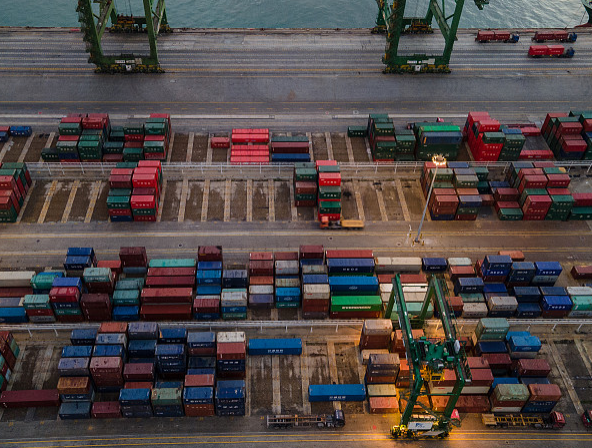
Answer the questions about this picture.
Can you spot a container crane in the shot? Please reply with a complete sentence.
Yes, a container crane can be made out from above.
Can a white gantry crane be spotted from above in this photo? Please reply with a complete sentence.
No, the frame has no white gantry crane in it.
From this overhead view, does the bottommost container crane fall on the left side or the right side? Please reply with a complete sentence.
You can find the bottommost container crane on the right side of the picture.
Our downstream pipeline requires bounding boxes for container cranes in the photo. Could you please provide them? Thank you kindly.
[369,0,487,72]
[69,0,173,71]
[369,273,471,435]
